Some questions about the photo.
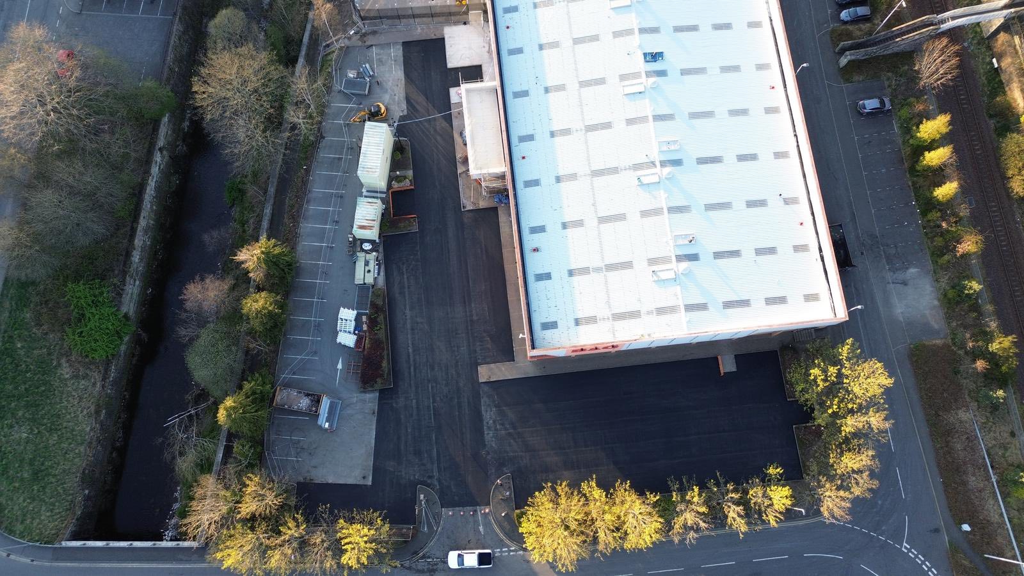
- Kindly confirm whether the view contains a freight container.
Yes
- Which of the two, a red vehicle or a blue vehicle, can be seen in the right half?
blue vehicle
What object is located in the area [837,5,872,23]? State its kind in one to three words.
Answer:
car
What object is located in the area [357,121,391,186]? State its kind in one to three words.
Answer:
shipping container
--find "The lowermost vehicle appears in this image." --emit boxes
[447,548,495,571]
